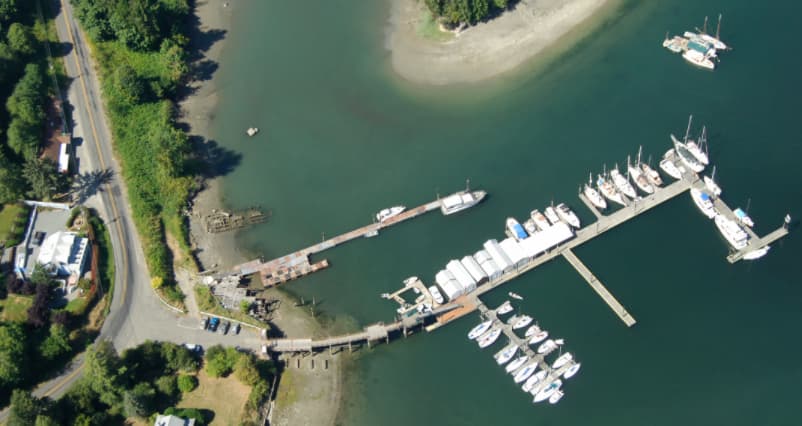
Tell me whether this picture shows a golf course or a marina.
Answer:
marina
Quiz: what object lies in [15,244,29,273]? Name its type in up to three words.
shed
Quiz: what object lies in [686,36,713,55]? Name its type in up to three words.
vessel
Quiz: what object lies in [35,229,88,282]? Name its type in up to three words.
house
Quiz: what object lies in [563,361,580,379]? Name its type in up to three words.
boat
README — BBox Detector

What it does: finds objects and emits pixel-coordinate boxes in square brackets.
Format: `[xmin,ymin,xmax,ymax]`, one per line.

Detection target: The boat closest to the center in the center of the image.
[376,205,406,222]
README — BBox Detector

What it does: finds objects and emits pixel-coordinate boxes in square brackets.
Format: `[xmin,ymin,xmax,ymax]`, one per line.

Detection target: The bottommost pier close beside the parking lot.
[267,313,421,359]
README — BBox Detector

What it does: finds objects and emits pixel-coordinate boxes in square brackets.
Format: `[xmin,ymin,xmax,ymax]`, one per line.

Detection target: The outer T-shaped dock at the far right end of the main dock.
[672,151,790,263]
